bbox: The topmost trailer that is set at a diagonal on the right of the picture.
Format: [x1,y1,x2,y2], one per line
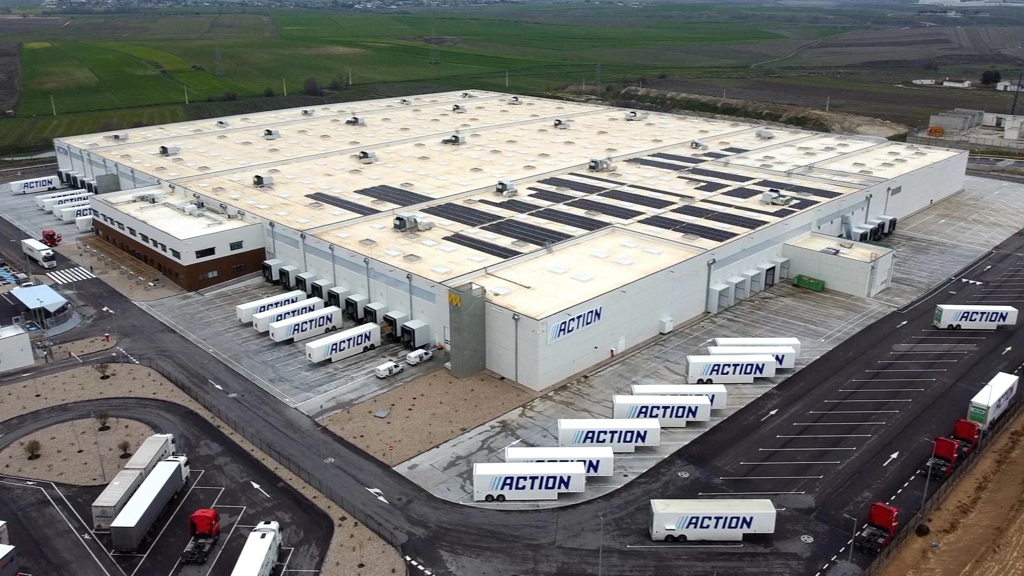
[966,371,1021,432]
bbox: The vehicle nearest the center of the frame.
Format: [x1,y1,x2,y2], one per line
[408,346,437,364]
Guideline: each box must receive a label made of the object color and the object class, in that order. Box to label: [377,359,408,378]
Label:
white vehicle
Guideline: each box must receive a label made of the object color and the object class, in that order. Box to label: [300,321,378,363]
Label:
white trailer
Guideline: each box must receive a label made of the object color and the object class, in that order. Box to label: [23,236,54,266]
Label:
white truck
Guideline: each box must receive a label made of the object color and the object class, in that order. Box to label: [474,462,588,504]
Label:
white trailer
